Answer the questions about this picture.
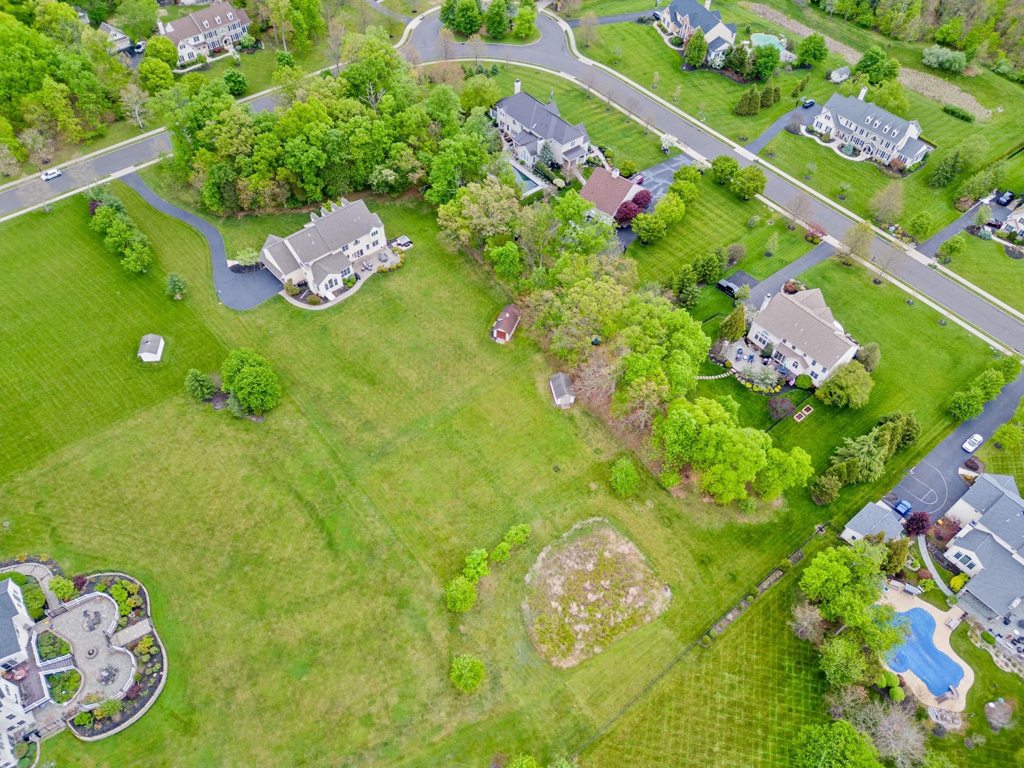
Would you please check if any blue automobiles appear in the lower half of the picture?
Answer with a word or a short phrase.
Yes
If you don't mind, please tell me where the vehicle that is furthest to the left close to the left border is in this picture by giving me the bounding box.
[40,166,61,179]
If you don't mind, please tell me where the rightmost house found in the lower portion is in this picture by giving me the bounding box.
[943,459,1024,628]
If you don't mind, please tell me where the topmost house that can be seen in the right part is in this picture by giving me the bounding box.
[652,0,742,61]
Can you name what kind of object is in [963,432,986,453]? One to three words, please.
car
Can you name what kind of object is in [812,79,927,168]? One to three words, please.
house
